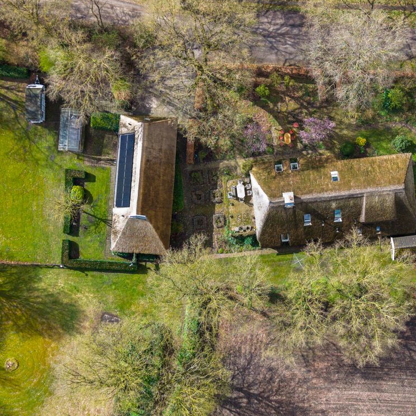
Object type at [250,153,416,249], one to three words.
house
